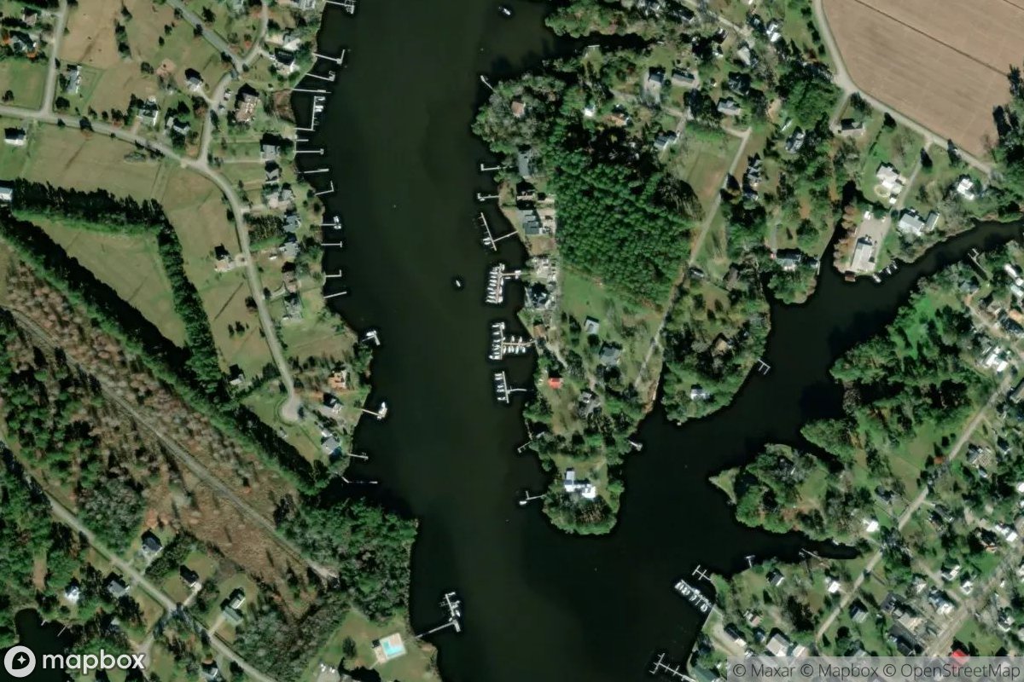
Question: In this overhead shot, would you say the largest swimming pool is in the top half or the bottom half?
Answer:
bottom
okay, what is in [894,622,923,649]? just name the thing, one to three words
building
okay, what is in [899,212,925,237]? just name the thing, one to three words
house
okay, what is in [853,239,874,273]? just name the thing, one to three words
building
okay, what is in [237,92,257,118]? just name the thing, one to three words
house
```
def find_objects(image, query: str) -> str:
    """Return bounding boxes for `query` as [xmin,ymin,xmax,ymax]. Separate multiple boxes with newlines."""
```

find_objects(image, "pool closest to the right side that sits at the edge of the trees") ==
[377,633,406,660]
